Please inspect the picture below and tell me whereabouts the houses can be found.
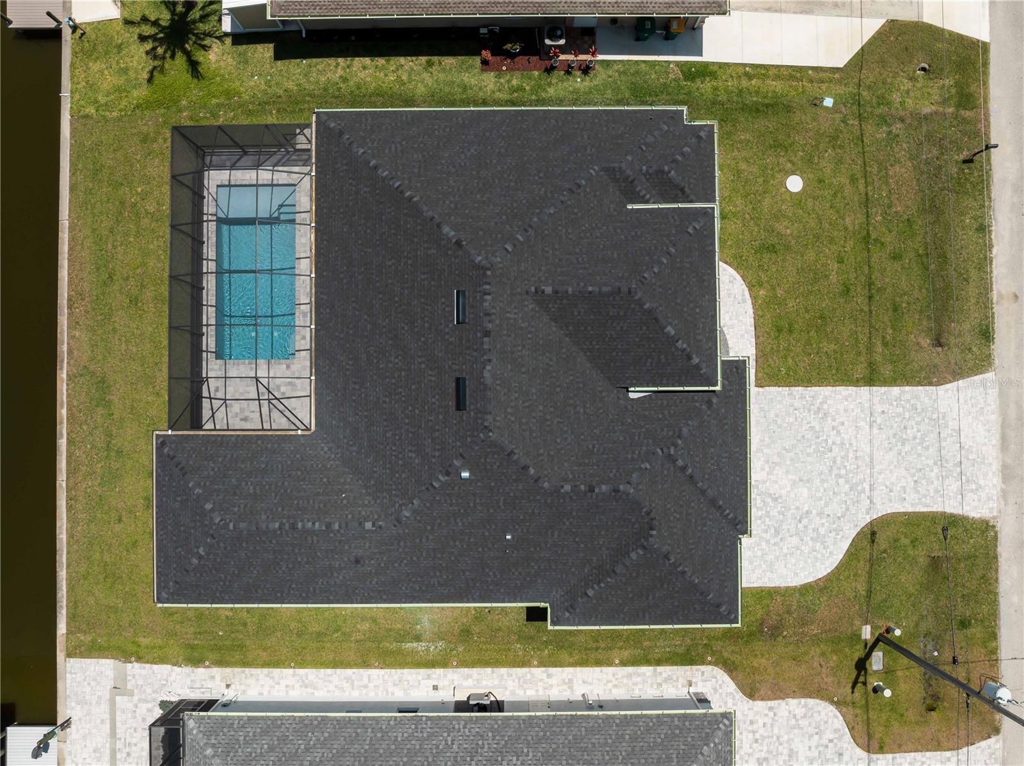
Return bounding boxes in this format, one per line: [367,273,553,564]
[183,694,738,766]
[151,106,752,630]
[268,0,731,35]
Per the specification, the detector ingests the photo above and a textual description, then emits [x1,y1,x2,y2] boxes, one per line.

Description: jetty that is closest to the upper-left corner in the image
[7,0,61,31]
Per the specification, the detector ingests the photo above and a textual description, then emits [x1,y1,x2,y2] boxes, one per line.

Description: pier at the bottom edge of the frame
[6,724,58,766]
